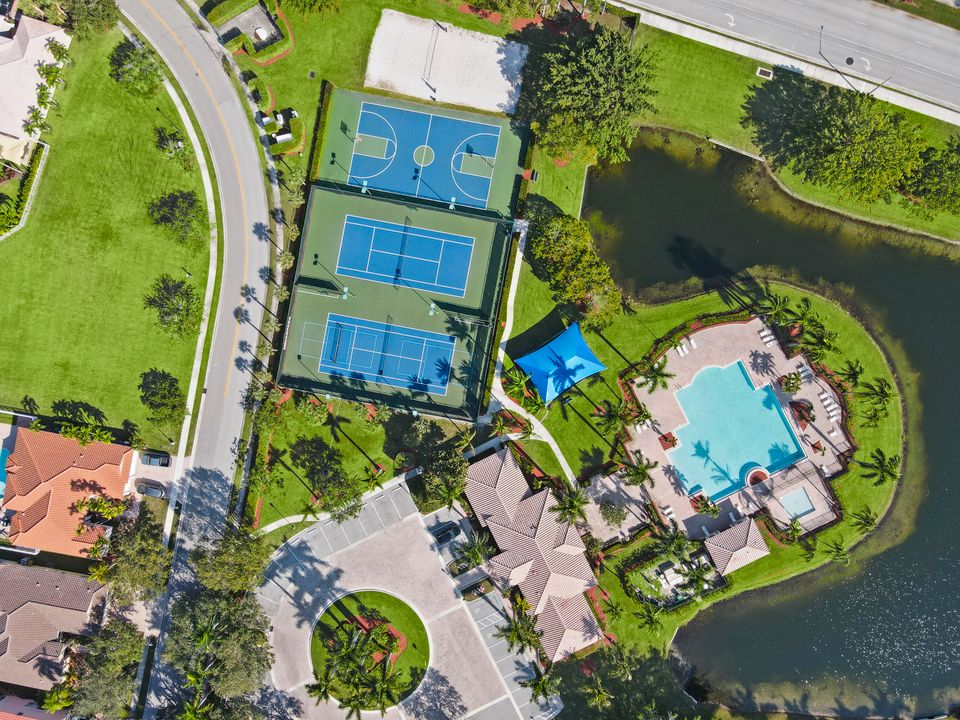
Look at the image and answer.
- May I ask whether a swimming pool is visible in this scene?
Yes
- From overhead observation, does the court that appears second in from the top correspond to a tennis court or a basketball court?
basketball court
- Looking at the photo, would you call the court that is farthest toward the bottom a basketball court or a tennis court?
tennis court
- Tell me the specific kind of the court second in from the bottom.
tennis court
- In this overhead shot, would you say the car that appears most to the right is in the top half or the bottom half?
bottom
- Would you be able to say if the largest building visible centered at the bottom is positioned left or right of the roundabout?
to the right of it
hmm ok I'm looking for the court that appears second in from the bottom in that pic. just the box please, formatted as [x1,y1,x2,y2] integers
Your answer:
[299,190,512,322]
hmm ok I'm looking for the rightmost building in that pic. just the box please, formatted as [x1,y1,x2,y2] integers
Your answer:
[700,516,771,578]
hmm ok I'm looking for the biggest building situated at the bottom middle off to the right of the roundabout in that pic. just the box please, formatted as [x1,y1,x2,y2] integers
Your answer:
[458,446,605,663]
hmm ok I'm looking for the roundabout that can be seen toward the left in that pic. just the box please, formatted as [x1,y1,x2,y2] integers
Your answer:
[308,589,431,712]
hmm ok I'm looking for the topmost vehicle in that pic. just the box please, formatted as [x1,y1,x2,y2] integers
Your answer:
[139,454,171,467]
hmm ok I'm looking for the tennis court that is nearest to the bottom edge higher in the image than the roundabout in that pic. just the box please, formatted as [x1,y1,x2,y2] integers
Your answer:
[283,288,494,419]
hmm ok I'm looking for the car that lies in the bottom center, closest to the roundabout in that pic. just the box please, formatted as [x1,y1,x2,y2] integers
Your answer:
[434,522,461,543]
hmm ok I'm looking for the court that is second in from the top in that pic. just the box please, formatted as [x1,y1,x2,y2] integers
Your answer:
[313,88,527,220]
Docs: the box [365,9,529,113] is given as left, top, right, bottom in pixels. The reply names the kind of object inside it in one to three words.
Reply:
sports court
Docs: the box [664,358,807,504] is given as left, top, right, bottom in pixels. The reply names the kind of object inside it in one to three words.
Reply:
swimming pool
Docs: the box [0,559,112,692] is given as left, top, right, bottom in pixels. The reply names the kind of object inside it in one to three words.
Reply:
house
